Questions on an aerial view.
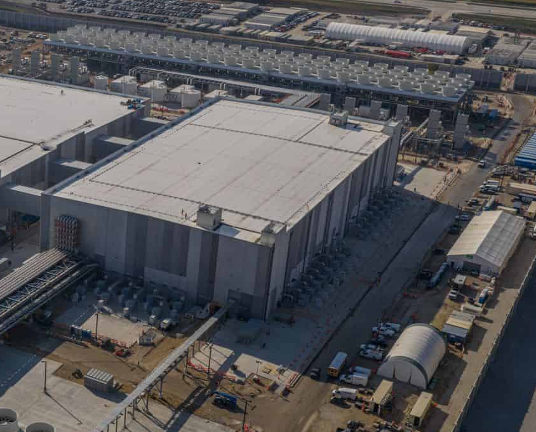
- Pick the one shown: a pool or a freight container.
freight container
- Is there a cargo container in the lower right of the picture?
Yes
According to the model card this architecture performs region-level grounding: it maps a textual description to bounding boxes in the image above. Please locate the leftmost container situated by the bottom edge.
[369,380,395,413]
